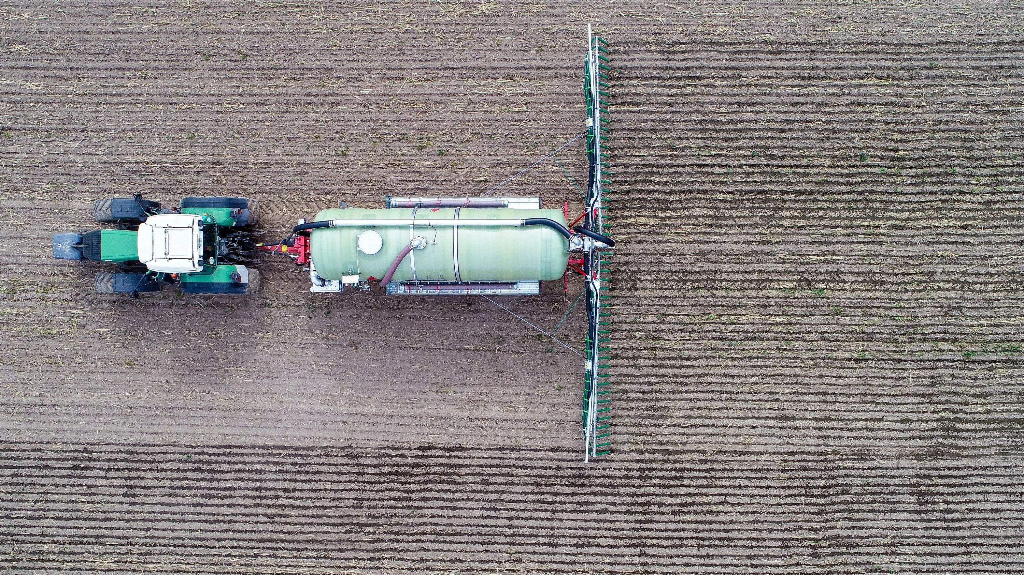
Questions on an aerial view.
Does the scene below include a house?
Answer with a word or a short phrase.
No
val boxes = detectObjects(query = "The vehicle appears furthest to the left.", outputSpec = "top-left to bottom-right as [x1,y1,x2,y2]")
[54,191,267,299]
